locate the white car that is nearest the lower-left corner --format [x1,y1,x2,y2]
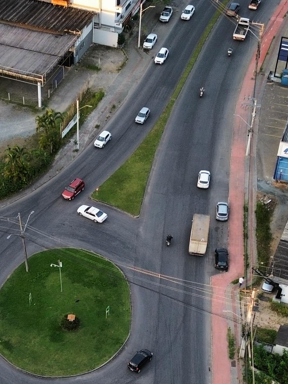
[76,207,108,224]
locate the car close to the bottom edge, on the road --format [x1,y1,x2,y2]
[126,350,154,375]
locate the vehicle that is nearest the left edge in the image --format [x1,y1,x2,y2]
[62,178,85,201]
